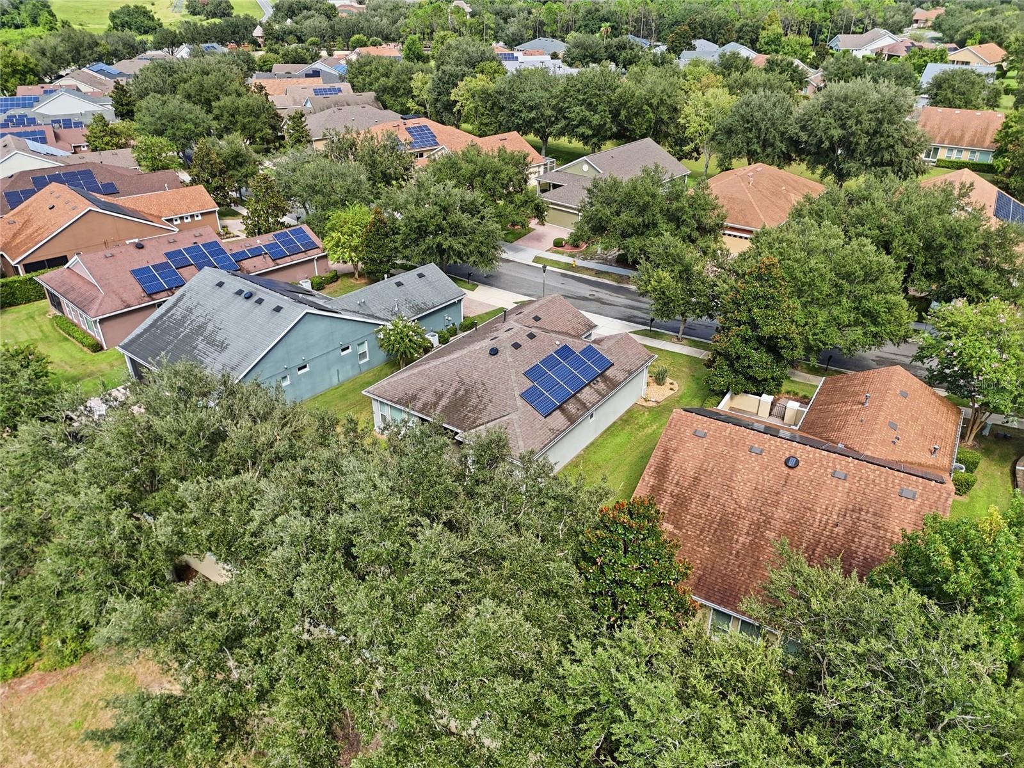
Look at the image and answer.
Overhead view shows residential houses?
Yes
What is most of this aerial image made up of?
trees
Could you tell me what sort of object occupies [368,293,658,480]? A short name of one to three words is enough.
house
